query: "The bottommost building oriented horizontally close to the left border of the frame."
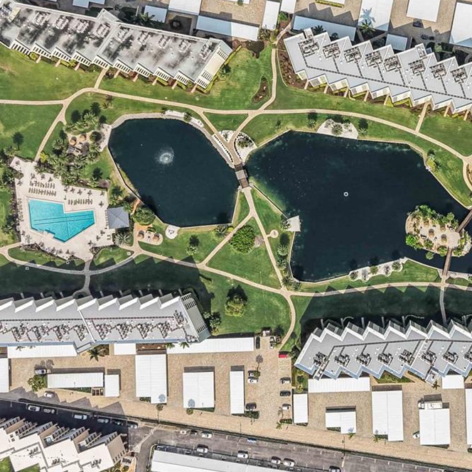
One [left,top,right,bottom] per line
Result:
[0,411,130,472]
